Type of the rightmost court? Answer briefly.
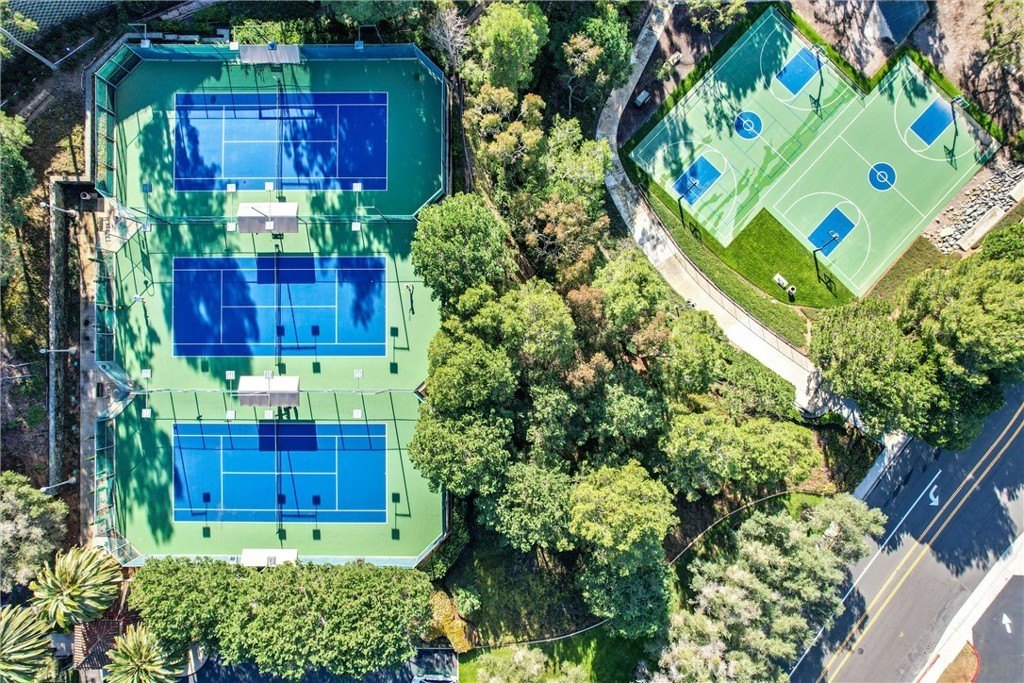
basketball court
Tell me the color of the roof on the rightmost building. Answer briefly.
blue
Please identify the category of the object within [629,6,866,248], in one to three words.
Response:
basketball court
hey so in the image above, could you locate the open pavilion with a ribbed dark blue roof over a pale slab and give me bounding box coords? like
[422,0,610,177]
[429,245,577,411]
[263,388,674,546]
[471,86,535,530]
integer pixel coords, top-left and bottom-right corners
[865,0,931,51]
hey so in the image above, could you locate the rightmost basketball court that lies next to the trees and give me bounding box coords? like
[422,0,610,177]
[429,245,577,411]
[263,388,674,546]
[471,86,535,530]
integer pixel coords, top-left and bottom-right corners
[766,56,1000,297]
